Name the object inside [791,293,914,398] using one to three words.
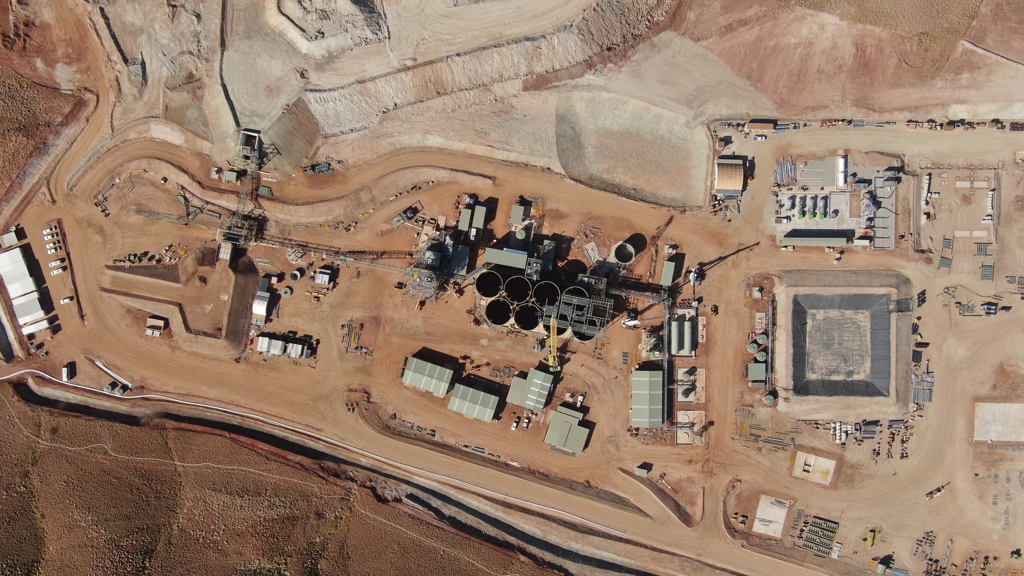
pond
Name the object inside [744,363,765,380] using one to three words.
shed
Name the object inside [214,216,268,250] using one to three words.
building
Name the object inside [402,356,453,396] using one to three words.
shed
